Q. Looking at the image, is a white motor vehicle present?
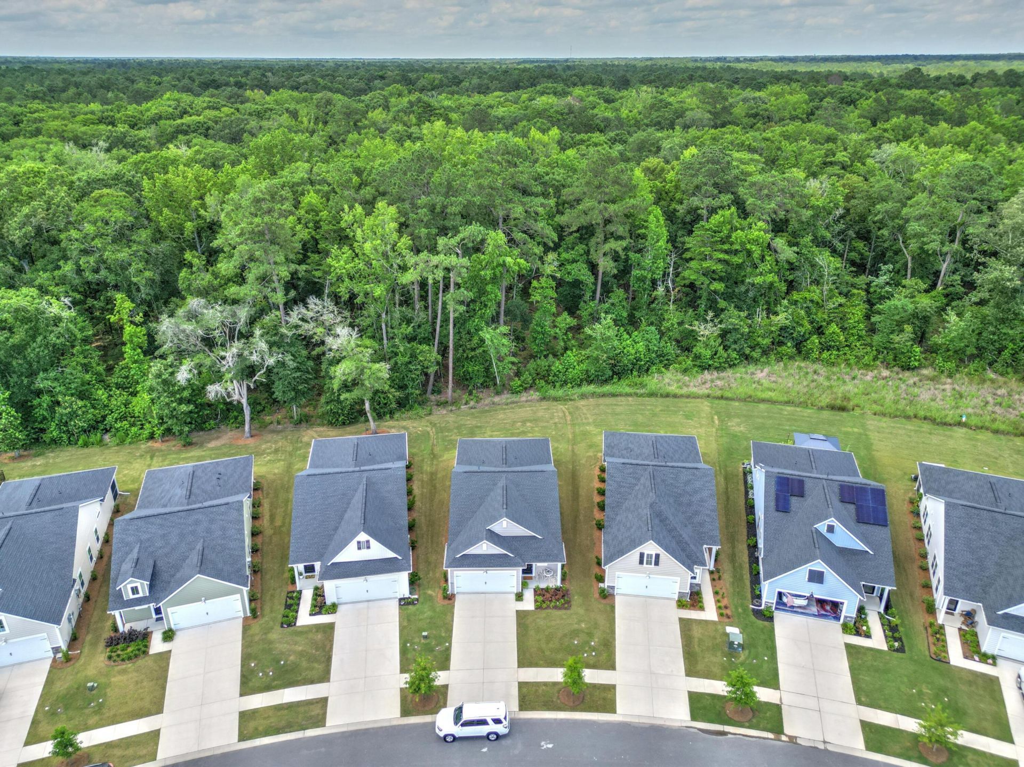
Yes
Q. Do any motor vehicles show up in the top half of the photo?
No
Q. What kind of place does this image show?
residential area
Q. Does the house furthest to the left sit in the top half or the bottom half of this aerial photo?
bottom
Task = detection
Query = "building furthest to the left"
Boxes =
[0,469,139,672]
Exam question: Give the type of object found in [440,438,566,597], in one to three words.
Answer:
house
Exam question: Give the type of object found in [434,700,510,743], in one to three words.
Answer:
car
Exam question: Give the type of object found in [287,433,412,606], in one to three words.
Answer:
house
